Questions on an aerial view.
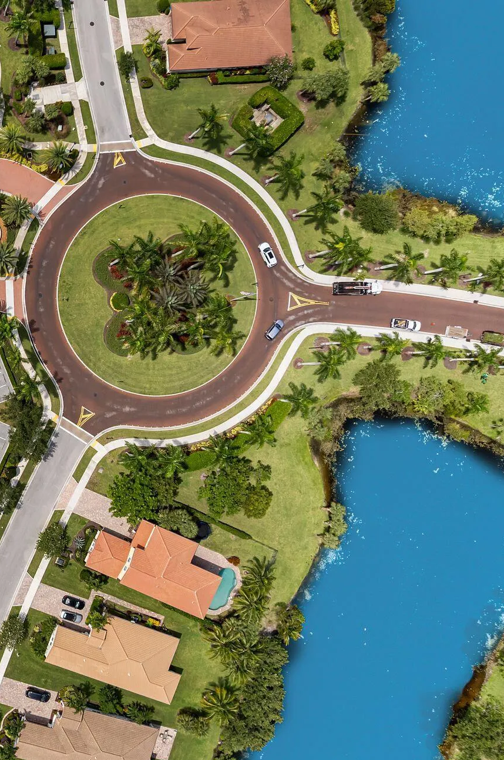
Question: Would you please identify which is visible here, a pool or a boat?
pool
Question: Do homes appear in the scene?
Yes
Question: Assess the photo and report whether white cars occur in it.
Yes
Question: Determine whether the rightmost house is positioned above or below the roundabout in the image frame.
above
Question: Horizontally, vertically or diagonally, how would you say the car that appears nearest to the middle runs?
diagonally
